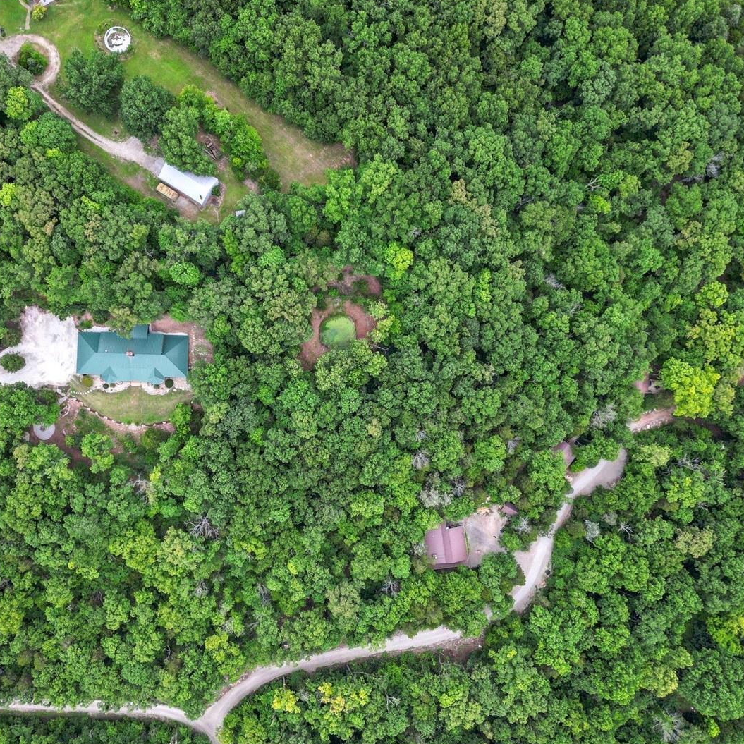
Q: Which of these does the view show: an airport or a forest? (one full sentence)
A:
What you see here is a forest.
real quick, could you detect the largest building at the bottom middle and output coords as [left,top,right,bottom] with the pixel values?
[427,522,467,570]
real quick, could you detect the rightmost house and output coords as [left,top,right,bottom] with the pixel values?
[632,371,665,395]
